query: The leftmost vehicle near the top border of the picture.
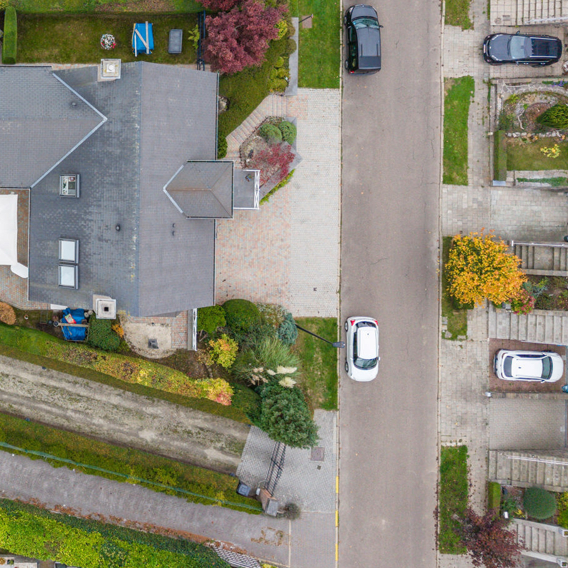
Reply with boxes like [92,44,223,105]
[342,5,383,75]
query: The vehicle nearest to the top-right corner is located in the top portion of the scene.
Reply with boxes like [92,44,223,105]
[478,31,563,67]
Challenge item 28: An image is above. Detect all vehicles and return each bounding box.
[478,31,563,67]
[342,315,380,380]
[487,347,563,385]
[342,5,383,75]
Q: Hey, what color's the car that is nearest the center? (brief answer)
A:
white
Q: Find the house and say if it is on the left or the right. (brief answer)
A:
left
